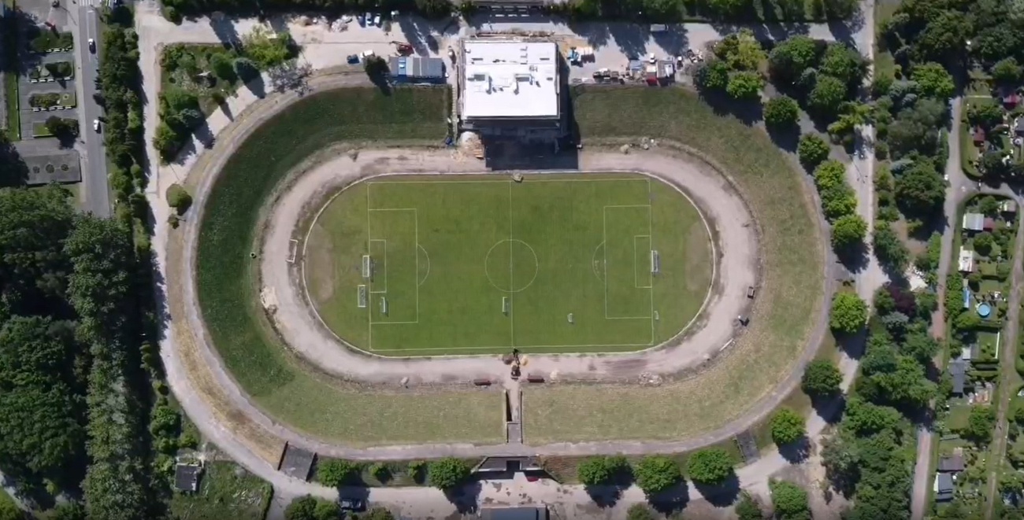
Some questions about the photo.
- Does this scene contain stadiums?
Yes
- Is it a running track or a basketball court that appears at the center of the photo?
running track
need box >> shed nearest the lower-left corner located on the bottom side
[174,462,201,492]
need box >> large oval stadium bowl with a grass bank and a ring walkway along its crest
[183,74,834,459]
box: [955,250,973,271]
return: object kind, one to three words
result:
shed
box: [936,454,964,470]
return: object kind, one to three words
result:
shed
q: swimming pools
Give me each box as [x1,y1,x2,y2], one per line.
[975,304,992,318]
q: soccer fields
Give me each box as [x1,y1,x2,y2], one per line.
[304,172,714,358]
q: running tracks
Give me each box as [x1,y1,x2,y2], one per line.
[260,146,761,387]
